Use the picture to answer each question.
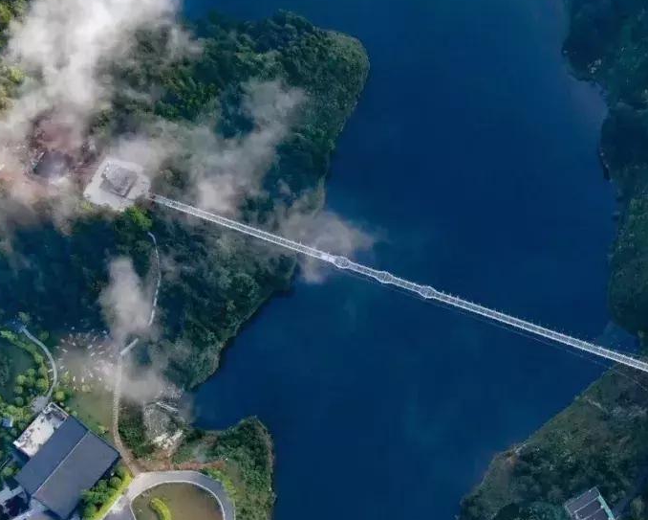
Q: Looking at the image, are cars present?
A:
No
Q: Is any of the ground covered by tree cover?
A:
Yes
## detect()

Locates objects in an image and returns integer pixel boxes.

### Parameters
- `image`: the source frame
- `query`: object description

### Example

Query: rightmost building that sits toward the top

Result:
[99,165,138,198]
